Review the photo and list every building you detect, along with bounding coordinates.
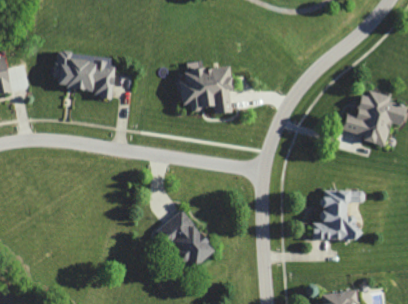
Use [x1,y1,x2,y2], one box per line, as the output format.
[0,51,11,94]
[55,50,116,106]
[345,90,408,145]
[148,213,215,268]
[323,290,359,304]
[314,188,368,244]
[179,60,234,114]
